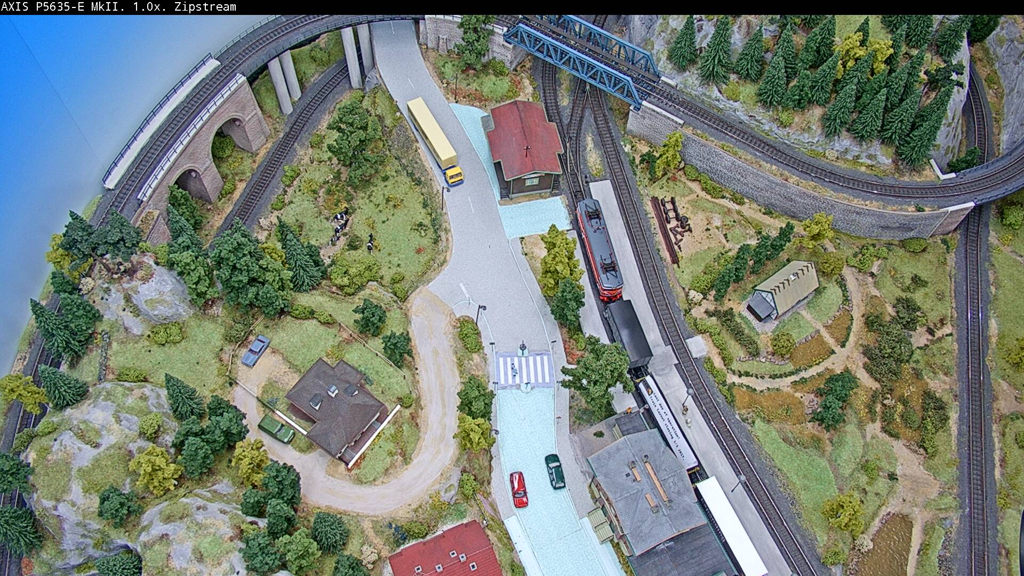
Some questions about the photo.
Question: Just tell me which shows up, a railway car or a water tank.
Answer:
railway car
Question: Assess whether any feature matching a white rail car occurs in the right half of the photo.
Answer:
Yes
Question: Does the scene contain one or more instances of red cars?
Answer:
Yes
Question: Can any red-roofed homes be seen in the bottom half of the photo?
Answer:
Yes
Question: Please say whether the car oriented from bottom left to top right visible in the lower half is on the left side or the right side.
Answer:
left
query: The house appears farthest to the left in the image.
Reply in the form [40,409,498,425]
[284,359,405,472]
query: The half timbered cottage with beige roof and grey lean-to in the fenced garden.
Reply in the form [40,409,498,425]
[745,260,822,322]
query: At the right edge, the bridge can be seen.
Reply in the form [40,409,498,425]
[940,141,1024,210]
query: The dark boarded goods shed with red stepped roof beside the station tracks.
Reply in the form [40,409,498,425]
[480,96,565,199]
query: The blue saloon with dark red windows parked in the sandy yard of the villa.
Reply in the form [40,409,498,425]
[238,333,273,367]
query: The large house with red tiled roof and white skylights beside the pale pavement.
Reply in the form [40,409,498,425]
[389,519,505,576]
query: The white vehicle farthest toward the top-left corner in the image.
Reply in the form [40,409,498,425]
[407,97,465,187]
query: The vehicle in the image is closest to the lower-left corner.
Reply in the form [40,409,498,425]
[255,414,298,446]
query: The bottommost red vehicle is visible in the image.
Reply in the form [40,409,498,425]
[510,471,529,510]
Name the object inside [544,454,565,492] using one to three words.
car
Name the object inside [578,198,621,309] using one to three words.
rail car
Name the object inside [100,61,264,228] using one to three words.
bridge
